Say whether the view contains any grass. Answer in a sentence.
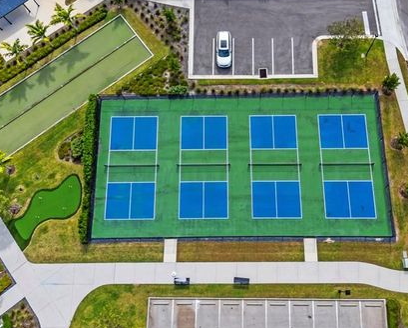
Yes, the picture does contain grass.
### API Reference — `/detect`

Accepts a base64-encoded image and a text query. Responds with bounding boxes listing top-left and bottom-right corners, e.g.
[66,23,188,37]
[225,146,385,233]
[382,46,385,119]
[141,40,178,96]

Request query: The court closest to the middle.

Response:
[177,116,228,219]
